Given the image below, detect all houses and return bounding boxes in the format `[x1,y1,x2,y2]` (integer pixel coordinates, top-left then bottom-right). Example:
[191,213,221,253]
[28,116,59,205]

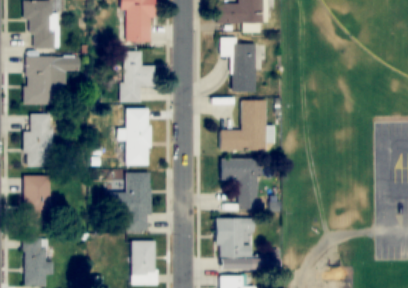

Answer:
[115,107,152,166]
[22,49,80,105]
[118,50,156,102]
[21,238,53,286]
[218,272,256,288]
[22,113,52,167]
[216,35,264,92]
[102,168,154,234]
[214,218,258,270]
[218,100,275,151]
[216,0,274,32]
[21,0,60,49]
[118,0,156,44]
[128,240,158,286]
[219,158,264,208]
